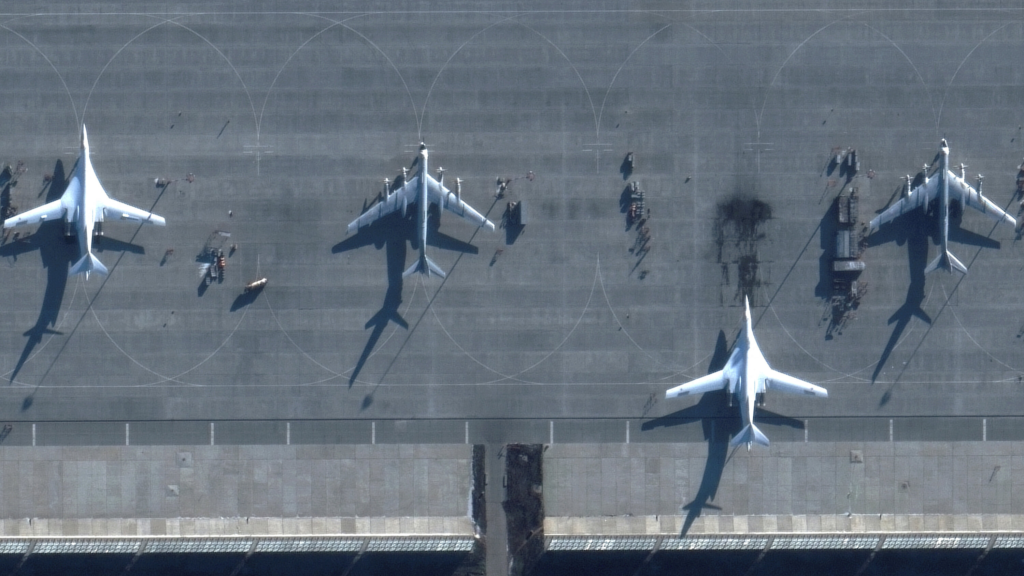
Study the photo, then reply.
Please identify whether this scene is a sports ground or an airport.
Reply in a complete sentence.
This image shows an airport.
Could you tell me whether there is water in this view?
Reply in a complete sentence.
No, the picture contains no water.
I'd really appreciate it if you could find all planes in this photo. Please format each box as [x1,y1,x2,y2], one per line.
[667,295,827,452]
[4,124,165,280]
[870,138,1016,273]
[348,142,494,277]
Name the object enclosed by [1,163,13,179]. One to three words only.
vehicle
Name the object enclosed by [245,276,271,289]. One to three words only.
vehicle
